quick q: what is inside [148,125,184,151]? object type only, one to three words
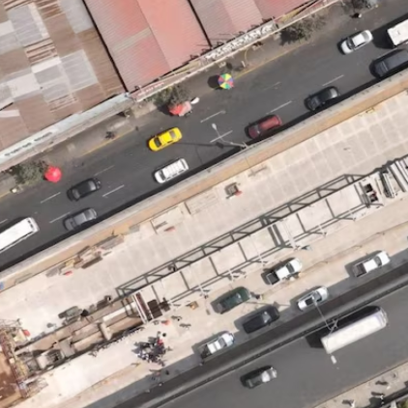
car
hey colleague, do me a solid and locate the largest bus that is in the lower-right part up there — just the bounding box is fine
[318,303,390,354]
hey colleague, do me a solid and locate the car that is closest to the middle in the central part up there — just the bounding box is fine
[152,157,190,183]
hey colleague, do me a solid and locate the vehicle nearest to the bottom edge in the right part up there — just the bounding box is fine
[242,363,279,390]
